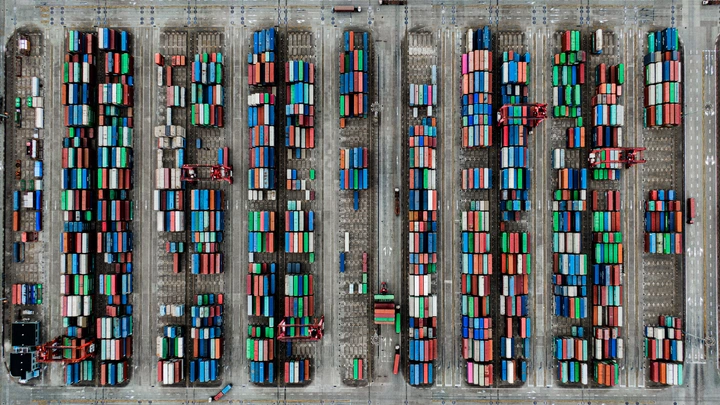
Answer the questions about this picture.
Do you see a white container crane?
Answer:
No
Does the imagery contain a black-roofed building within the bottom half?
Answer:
Yes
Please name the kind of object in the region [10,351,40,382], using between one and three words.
building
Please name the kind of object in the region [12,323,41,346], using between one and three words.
building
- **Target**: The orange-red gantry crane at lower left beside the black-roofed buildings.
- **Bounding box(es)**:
[33,330,101,364]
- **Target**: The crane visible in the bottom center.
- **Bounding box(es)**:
[278,309,326,340]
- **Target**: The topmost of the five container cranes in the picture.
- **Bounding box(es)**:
[494,101,551,131]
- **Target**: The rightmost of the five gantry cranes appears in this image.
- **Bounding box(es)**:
[586,146,649,172]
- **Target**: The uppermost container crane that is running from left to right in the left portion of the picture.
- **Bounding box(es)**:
[178,162,232,188]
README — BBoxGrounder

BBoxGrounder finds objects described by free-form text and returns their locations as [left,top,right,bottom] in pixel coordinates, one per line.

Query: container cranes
[33,330,101,364]
[586,146,649,172]
[494,101,551,131]
[278,309,326,340]
[178,162,232,188]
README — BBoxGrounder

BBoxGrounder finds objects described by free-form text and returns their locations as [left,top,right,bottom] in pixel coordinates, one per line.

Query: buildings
[12,323,41,346]
[10,351,40,382]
